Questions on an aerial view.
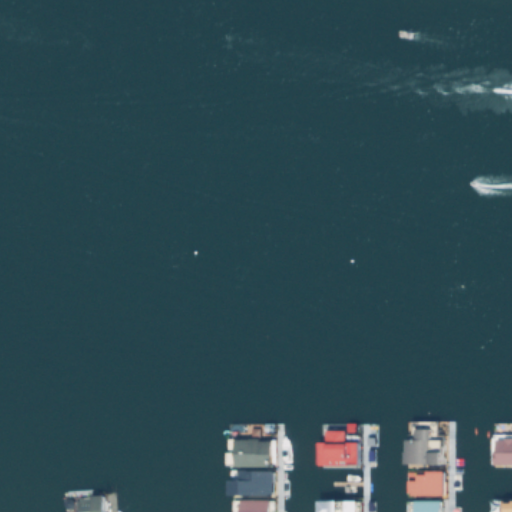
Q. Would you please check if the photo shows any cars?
No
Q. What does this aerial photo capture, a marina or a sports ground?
marina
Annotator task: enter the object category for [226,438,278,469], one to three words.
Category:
house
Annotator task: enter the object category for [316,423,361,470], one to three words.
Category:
house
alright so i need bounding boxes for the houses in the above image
[408,471,448,498]
[316,423,361,470]
[226,438,278,469]
[232,500,277,512]
[491,434,512,468]
[316,501,362,512]
[408,501,446,512]
[64,489,110,512]
[404,421,446,470]
[490,501,512,512]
